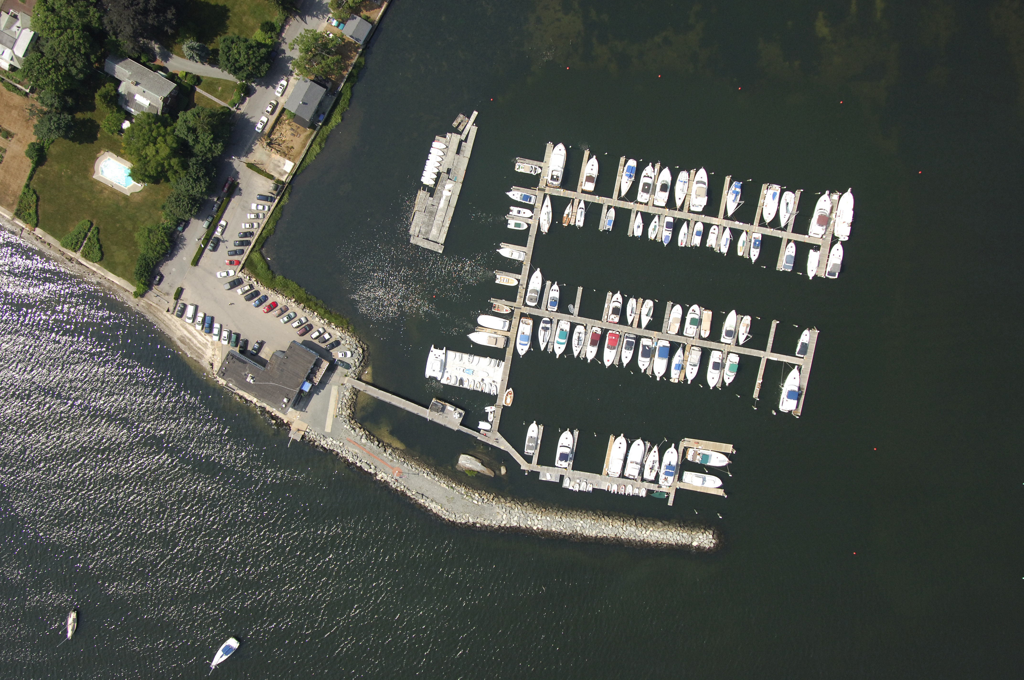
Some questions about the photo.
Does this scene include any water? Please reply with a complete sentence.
Yes, water can be seen from above here.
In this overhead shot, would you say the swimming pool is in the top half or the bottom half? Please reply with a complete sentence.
The top half of the photo is where the swimming pool is.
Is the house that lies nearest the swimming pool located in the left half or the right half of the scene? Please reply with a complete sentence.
The house that lies nearest the swimming pool appears in the left half of the scene.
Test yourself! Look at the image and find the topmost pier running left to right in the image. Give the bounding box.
[543,151,839,276]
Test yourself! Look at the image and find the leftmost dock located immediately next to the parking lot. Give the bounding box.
[345,377,466,431]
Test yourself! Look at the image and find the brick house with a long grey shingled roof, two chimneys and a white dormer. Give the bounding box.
[104,56,180,117]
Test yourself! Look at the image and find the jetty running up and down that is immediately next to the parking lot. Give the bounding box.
[477,143,553,431]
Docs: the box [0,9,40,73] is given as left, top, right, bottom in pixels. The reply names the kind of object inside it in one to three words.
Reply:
house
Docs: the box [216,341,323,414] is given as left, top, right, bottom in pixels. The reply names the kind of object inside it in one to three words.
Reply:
building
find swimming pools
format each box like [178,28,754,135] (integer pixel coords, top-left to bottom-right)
[93,151,144,195]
